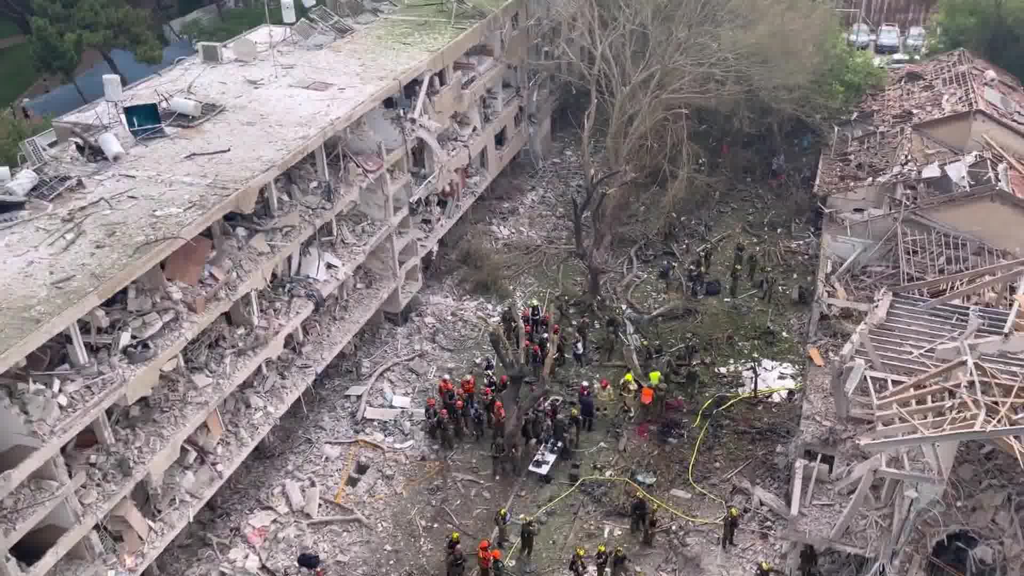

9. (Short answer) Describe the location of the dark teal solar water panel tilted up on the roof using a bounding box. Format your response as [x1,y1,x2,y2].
[123,102,169,141]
